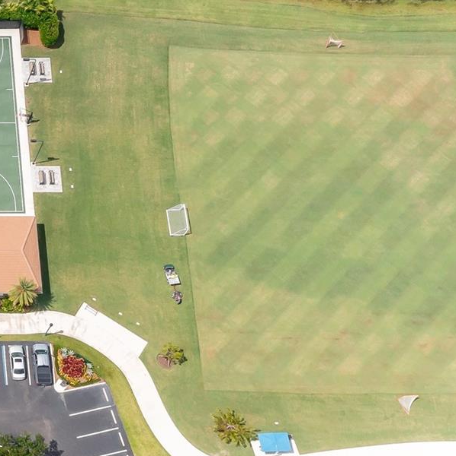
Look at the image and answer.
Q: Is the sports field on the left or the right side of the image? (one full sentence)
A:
It is on the right.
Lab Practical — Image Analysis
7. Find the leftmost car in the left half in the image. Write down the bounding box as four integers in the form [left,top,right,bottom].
[10,348,25,382]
